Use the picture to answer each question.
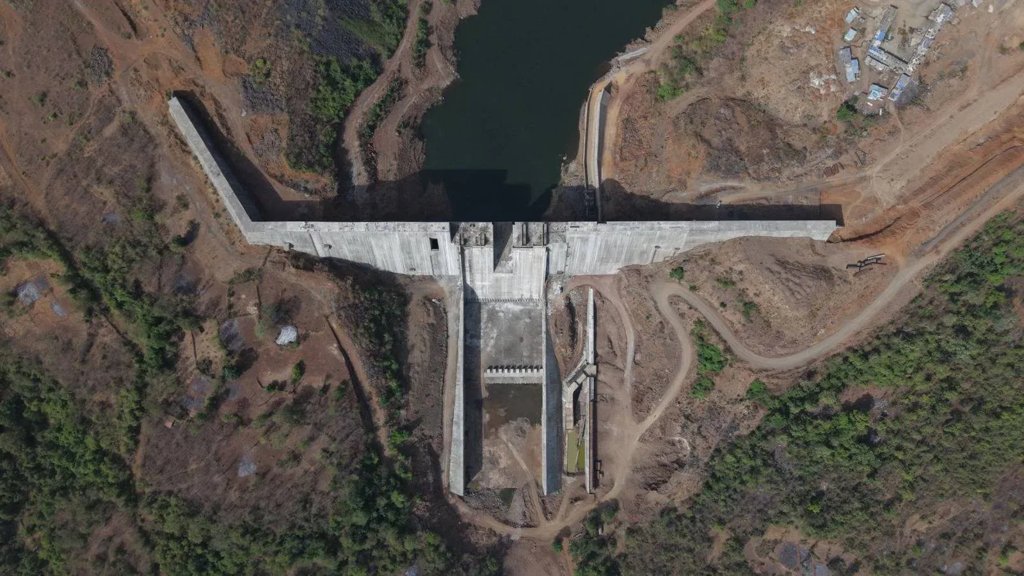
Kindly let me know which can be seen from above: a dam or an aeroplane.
dam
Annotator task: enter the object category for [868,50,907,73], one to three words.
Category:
shed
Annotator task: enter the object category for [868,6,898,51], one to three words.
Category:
shed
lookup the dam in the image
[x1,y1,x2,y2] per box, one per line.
[167,97,836,300]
